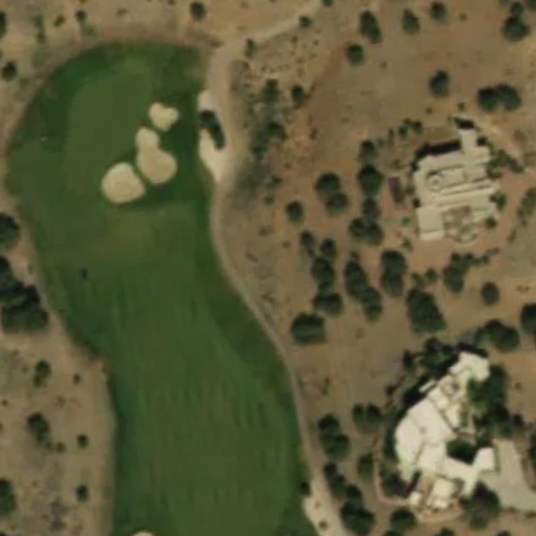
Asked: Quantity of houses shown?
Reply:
2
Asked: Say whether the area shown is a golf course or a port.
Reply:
golf course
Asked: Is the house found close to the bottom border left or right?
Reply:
right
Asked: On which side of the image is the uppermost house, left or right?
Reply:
right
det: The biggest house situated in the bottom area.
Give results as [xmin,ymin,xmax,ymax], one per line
[395,352,494,517]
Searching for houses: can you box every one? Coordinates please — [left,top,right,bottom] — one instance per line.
[395,352,494,517]
[413,128,499,244]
